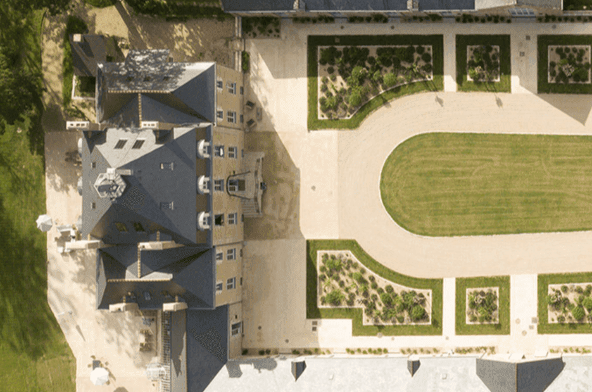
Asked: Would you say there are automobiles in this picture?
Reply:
No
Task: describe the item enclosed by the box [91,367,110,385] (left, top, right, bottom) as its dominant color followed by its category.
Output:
white umbrella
